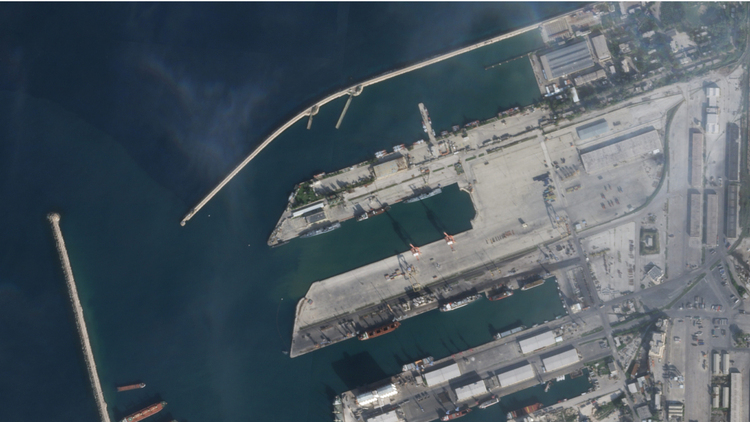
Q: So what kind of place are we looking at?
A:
port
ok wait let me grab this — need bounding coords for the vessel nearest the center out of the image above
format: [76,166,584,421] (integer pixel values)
[357,205,391,221]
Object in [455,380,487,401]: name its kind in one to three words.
building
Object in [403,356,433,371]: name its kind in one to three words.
ship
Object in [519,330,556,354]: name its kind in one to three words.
building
